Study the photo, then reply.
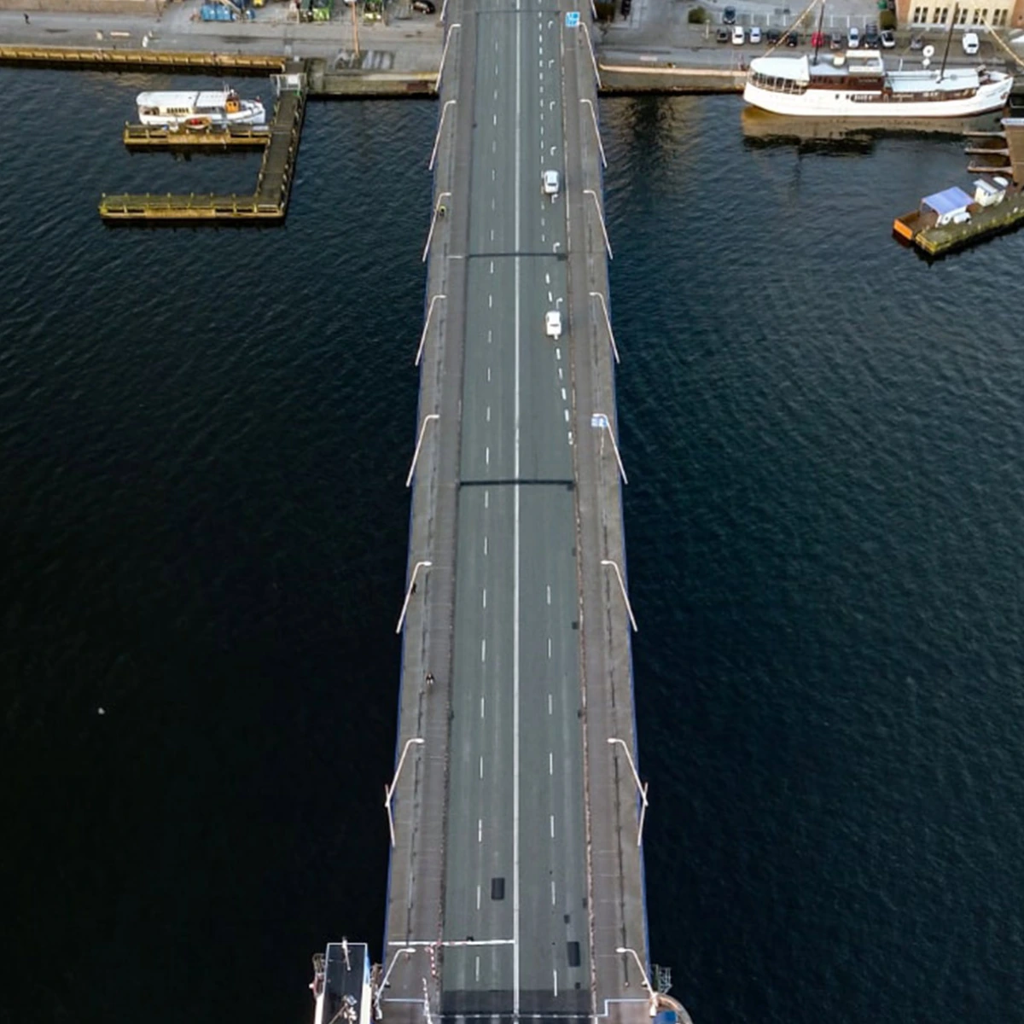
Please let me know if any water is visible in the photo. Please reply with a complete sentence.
Yes, water shows up in the scene.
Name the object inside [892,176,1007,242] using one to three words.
vessel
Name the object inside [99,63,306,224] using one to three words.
pier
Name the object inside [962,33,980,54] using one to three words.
vehicle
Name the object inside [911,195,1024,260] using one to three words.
pier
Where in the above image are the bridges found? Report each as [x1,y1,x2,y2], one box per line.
[376,0,655,1024]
